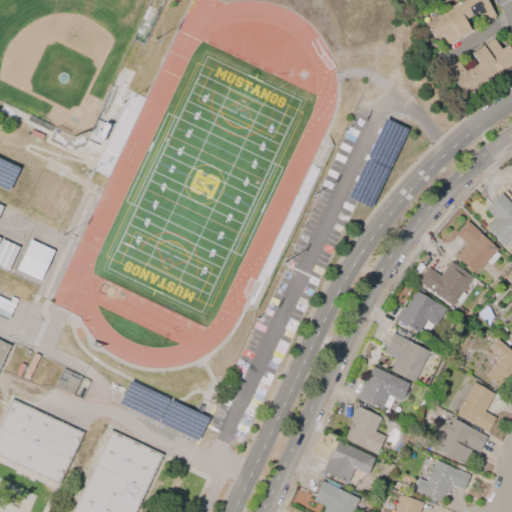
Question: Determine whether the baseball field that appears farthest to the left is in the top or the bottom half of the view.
top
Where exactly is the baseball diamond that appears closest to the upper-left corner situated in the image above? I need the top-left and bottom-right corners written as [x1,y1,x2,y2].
[0,0,151,135]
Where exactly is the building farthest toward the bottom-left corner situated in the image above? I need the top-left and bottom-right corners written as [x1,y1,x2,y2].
[0,399,86,484]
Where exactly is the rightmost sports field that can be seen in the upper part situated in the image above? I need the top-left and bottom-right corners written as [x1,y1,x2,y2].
[96,42,316,326]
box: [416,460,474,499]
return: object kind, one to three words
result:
house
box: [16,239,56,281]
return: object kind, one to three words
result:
building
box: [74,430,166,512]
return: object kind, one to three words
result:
building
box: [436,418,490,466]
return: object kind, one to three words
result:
house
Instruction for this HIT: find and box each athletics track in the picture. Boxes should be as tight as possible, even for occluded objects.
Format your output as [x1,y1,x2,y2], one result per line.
[54,0,342,372]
